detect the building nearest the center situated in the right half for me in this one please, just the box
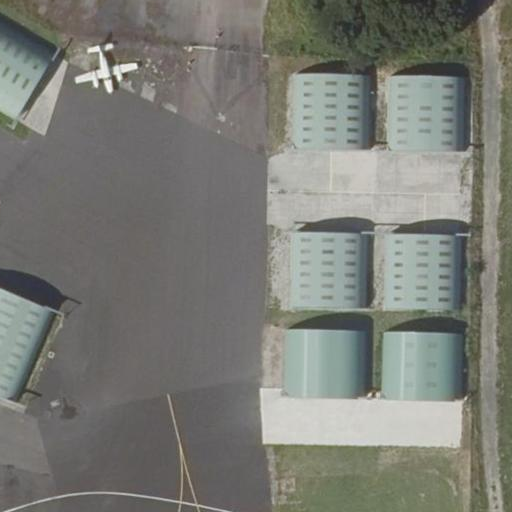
[286,232,375,310]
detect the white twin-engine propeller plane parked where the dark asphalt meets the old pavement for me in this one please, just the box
[74,43,138,94]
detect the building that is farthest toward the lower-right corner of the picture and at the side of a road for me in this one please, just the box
[382,331,466,402]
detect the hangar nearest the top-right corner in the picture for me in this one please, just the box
[383,73,474,150]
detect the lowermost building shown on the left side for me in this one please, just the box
[0,289,62,410]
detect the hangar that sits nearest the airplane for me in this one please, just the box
[0,17,58,120]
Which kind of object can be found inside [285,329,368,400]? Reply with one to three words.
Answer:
hangar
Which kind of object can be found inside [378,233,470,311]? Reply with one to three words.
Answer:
hangar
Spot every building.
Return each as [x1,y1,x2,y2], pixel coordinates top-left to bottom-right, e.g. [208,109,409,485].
[0,289,62,410]
[285,329,368,400]
[0,17,58,120]
[382,331,466,402]
[286,232,375,310]
[287,72,376,150]
[383,73,474,150]
[378,233,470,311]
